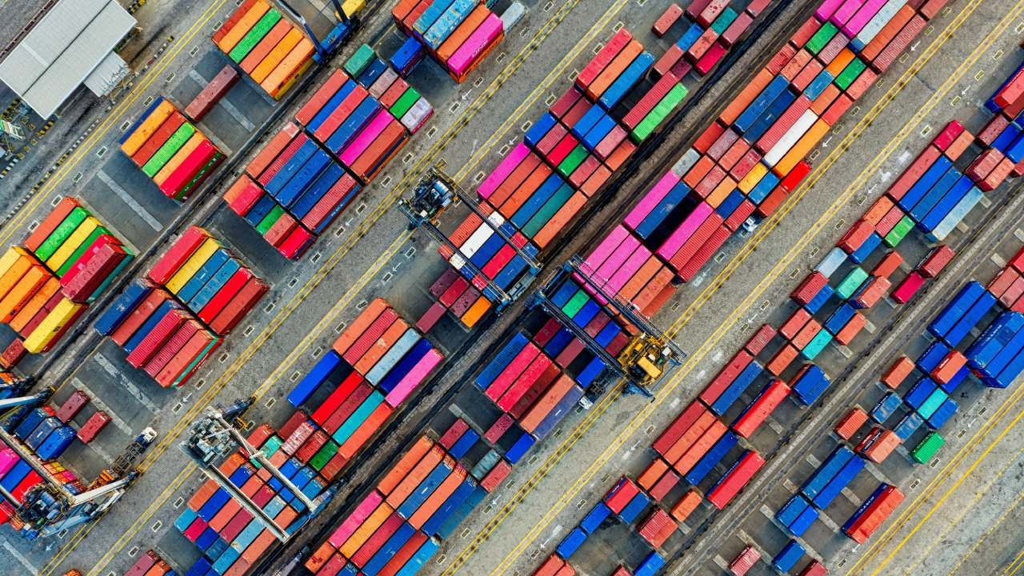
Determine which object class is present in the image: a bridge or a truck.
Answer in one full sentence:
Looking from above, you can make out a truck.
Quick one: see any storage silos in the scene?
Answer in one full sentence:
No, I can't see a single storage silo in this photo.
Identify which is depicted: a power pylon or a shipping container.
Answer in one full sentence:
Of the two, only a shipping container appears.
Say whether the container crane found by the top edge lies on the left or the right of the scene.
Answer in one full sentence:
The container crane found by the top edge appears in the left half of the scene.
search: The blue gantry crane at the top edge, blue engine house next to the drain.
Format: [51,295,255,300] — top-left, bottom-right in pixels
[278,0,359,63]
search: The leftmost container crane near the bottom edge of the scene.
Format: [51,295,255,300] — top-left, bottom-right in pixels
[0,381,149,549]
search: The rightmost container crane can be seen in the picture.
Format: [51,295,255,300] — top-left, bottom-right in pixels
[525,251,695,405]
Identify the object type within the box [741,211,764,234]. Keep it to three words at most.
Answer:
truck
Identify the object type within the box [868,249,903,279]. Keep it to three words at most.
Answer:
shipping container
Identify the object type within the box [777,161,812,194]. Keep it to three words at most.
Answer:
shipping container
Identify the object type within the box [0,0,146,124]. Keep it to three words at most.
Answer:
warehouse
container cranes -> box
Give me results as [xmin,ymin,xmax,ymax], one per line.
[0,381,149,549]
[278,0,359,63]
[525,251,695,405]
[169,386,352,545]
[389,159,547,314]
